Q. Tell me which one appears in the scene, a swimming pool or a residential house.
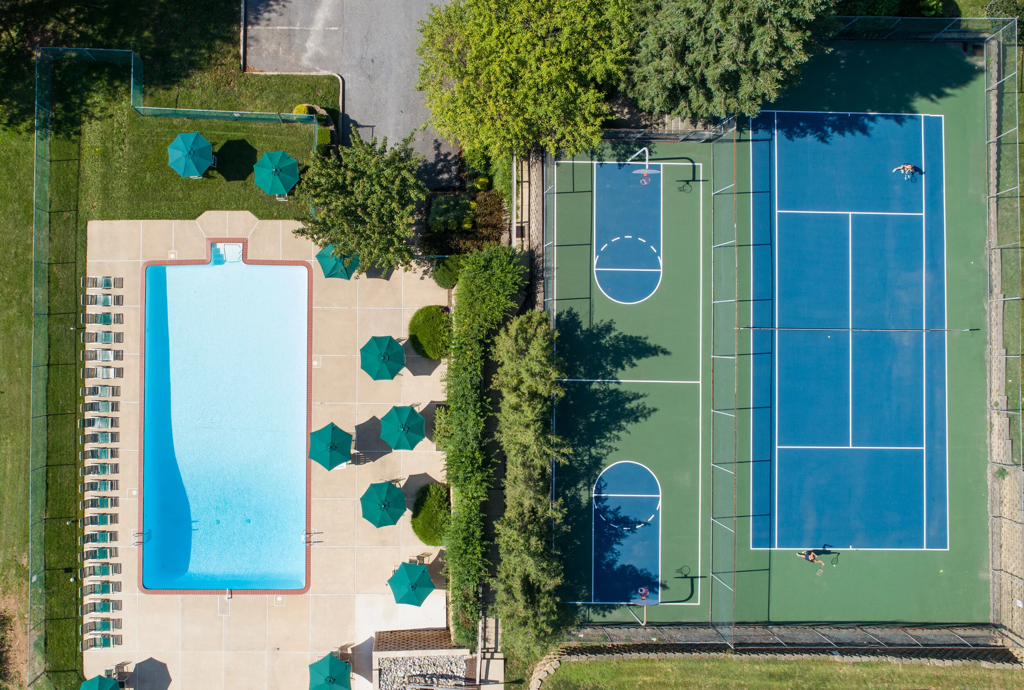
swimming pool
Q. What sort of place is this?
sports ground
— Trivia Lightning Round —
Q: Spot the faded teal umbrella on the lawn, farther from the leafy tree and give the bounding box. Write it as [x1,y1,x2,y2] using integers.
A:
[170,134,213,178]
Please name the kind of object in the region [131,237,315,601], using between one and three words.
swimming pool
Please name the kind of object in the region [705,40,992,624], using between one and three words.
tennis court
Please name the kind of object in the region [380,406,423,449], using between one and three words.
umbrella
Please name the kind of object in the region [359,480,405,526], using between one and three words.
umbrella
